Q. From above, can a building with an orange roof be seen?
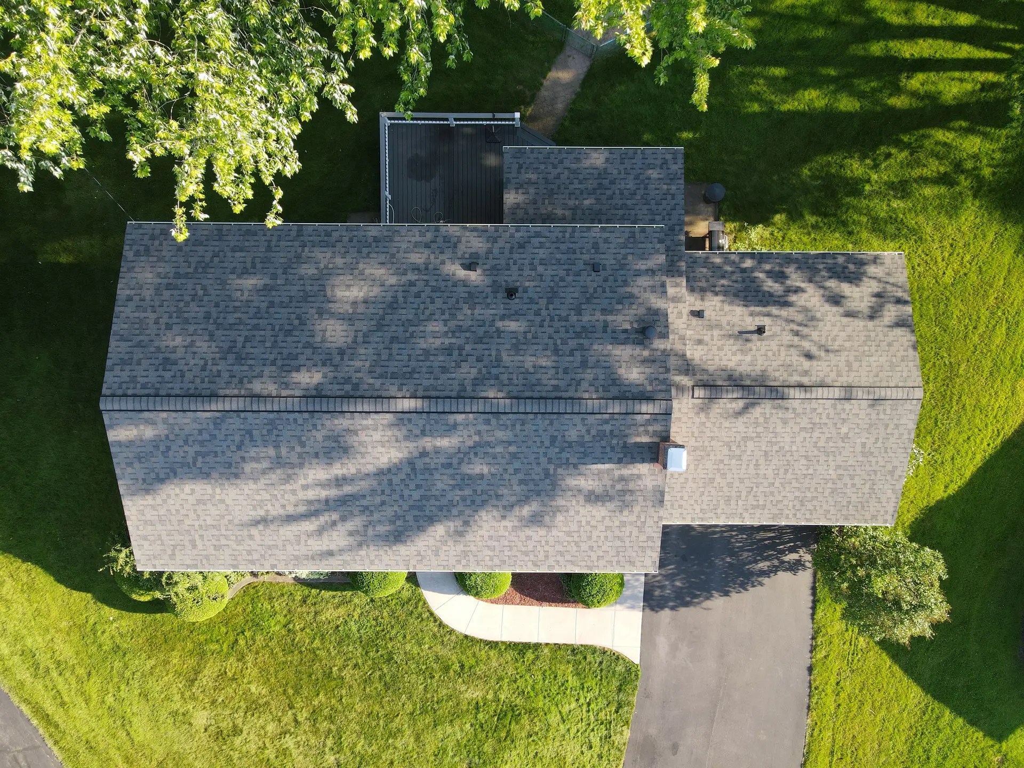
No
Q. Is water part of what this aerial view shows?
No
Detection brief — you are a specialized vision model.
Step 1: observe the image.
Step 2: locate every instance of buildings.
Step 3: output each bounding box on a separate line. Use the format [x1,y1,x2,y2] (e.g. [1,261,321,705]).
[99,147,924,574]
